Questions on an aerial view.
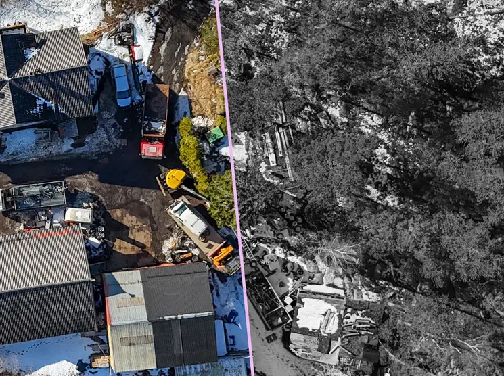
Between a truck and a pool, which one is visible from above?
truck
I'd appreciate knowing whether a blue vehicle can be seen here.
Yes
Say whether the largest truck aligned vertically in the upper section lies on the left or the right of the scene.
left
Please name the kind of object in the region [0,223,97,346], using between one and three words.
building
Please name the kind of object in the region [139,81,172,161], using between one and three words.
truck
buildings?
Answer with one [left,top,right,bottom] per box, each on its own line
[0,223,97,346]
[0,28,92,132]
[99,263,219,373]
